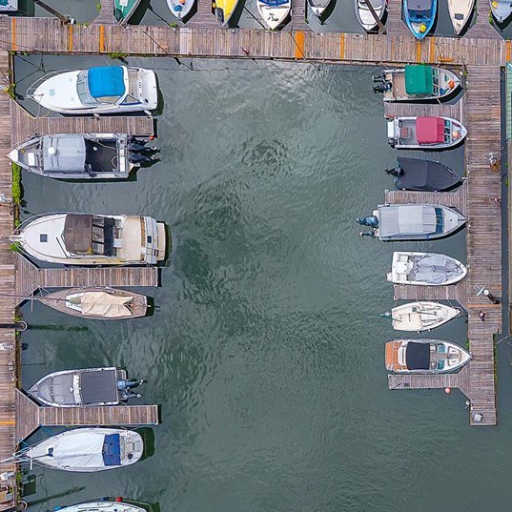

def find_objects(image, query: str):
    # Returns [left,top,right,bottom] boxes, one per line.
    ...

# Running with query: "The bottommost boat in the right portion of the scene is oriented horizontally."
[386,339,471,376]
